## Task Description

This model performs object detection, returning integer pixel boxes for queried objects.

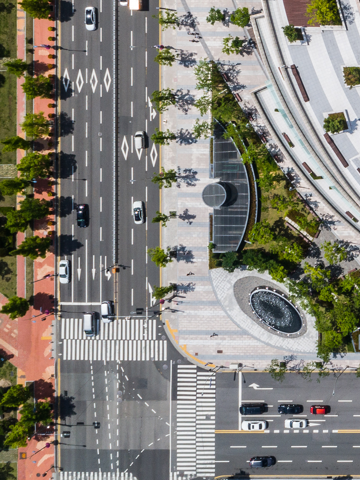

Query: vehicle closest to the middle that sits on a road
[132,200,145,225]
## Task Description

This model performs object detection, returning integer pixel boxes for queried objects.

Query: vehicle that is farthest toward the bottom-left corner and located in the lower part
[84,311,98,336]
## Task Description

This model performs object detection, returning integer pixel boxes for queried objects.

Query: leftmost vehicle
[59,260,72,284]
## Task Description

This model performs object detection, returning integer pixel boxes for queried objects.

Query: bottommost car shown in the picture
[251,455,275,469]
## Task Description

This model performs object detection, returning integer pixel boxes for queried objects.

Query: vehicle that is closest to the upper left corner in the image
[84,6,98,31]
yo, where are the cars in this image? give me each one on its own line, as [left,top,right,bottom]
[102,299,115,323]
[240,402,268,417]
[77,203,90,227]
[59,260,72,284]
[84,6,98,31]
[251,455,275,469]
[285,418,307,430]
[243,419,267,431]
[279,403,304,415]
[84,311,98,336]
[120,0,129,7]
[135,130,146,150]
[132,200,145,225]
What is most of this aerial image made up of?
paved ground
